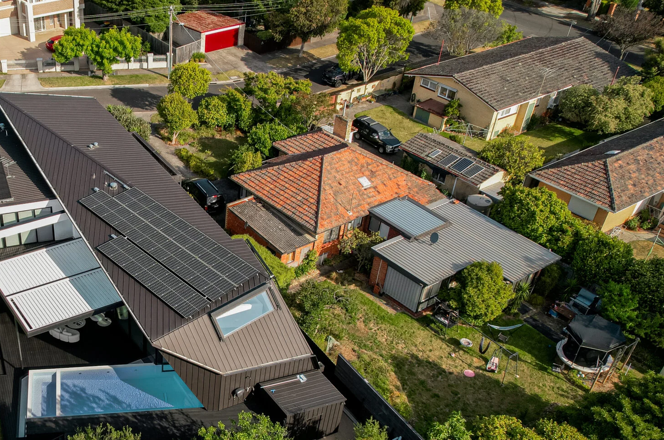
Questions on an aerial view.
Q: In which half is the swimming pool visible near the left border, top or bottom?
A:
bottom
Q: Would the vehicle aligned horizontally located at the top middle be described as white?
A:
No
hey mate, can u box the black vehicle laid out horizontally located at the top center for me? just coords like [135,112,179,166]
[320,62,367,86]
